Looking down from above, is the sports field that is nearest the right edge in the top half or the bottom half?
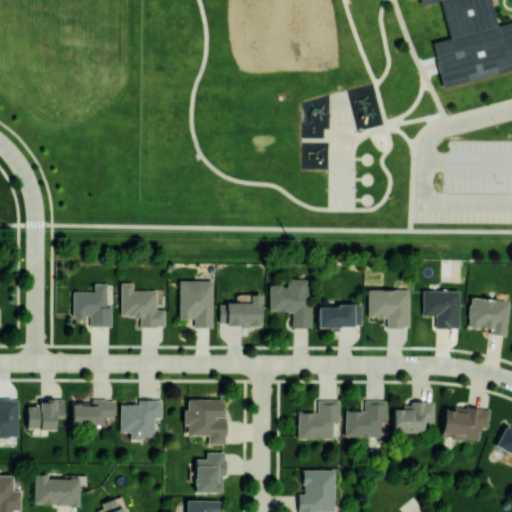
top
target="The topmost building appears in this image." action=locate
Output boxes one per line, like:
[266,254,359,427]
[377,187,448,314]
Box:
[420,0,512,88]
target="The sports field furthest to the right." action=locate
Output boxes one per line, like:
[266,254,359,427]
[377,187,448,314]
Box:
[139,0,196,204]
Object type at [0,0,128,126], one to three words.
sports field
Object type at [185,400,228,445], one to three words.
house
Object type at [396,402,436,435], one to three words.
house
